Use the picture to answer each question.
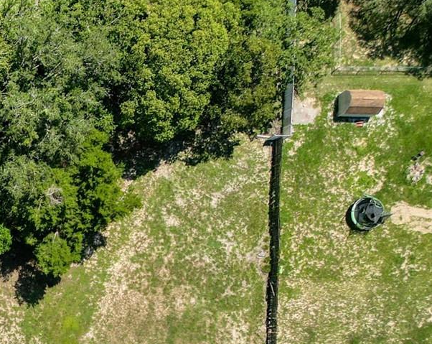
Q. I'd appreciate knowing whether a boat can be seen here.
No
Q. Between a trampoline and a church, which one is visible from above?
trampoline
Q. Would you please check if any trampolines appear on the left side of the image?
No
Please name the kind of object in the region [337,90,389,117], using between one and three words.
shed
